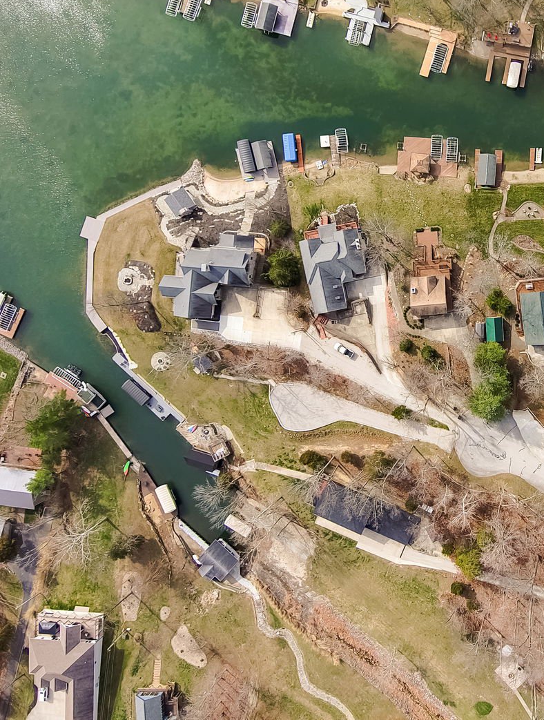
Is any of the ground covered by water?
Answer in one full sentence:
Yes, there's water in this view.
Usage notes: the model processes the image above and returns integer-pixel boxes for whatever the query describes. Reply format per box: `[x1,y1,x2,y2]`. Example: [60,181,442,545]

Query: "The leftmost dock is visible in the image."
[0,305,27,339]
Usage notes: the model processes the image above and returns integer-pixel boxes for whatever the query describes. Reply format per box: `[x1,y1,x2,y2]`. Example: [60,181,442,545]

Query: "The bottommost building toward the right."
[314,473,423,546]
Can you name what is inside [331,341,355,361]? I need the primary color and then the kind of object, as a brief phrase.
white vehicle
